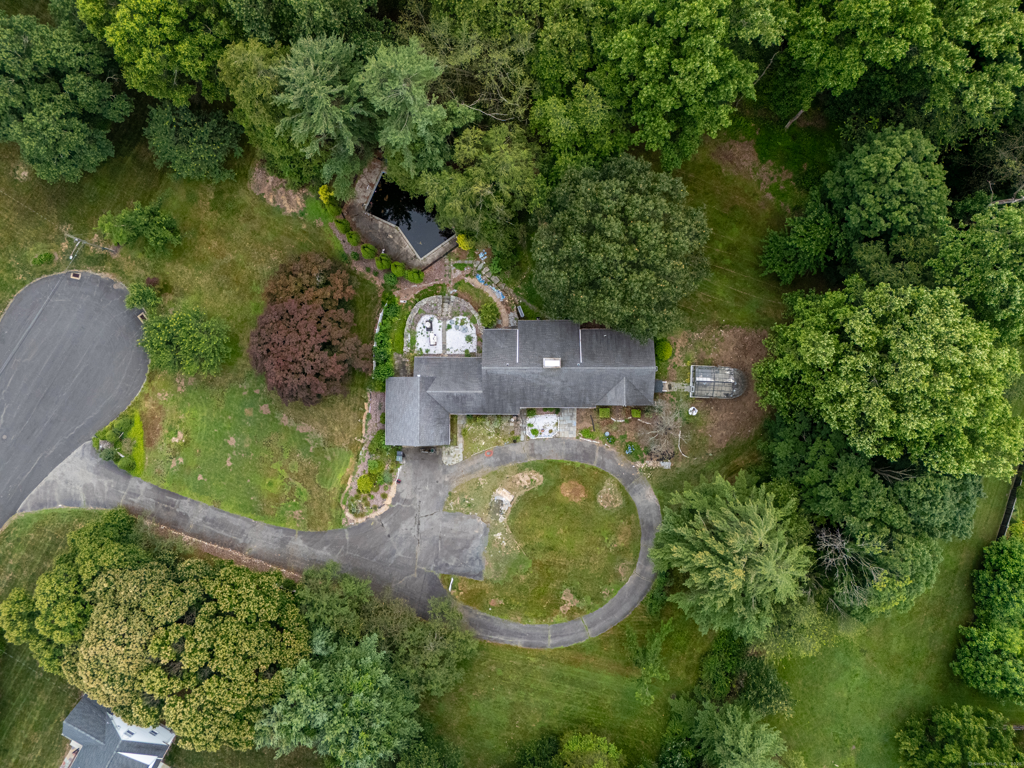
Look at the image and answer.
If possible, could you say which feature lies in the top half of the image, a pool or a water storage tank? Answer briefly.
pool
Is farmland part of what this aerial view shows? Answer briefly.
No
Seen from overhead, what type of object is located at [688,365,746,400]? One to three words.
greenhouse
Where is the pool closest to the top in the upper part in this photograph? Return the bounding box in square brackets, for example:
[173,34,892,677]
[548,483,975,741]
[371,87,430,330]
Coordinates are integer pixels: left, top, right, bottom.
[362,168,459,262]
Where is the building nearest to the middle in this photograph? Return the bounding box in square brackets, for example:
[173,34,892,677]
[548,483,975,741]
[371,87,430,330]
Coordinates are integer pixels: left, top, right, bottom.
[385,319,663,447]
